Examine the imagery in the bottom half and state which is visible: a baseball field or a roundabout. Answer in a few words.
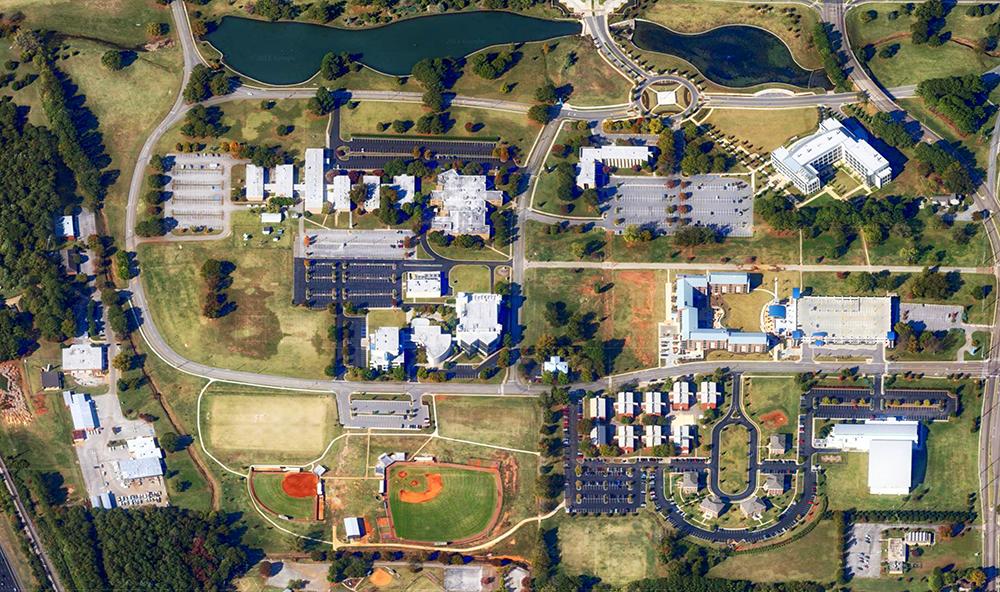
baseball field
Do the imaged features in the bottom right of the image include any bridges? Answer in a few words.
No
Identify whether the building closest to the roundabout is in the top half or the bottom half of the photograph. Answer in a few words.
top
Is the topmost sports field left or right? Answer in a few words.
left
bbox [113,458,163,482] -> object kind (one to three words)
shed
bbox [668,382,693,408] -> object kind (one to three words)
house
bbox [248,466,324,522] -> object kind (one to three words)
baseball field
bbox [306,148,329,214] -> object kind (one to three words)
building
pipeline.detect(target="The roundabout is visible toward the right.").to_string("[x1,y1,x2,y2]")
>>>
[634,74,699,120]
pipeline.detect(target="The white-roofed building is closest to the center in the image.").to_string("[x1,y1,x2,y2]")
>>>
[457,292,502,354]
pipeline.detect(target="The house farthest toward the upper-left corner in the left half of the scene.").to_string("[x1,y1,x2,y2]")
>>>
[57,216,74,238]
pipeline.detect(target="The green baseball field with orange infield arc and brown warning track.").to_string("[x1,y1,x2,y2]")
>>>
[376,457,502,545]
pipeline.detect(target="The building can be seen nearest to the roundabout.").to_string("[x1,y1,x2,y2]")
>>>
[577,147,653,189]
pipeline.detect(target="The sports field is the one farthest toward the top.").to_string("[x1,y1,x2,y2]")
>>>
[209,393,330,451]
